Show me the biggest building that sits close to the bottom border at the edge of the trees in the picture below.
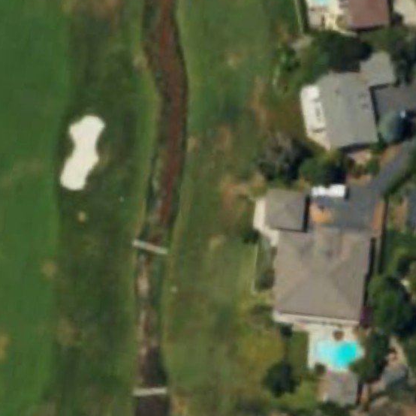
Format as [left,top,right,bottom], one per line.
[322,369,360,405]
